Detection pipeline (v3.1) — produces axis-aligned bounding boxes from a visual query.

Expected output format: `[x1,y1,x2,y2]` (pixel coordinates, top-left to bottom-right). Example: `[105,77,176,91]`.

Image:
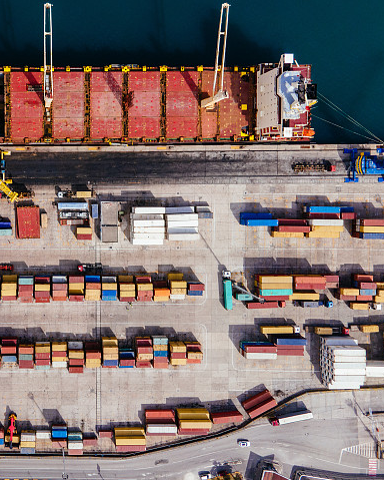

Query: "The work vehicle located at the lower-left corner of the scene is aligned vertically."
[5,415,20,448]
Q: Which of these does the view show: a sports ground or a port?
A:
port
